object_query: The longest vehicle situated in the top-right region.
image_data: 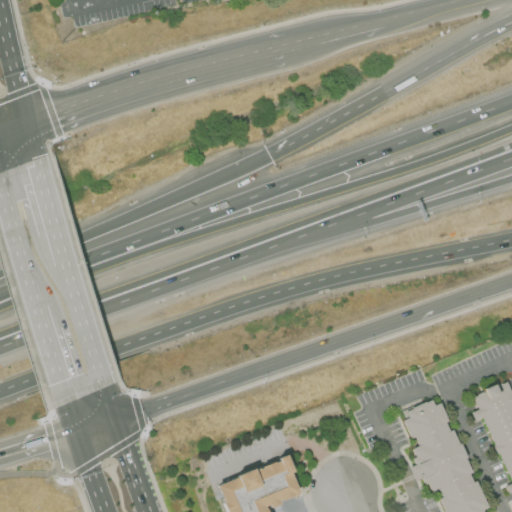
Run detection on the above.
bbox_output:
[390,76,418,94]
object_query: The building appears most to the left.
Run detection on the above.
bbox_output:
[220,454,305,512]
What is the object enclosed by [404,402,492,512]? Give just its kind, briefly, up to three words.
building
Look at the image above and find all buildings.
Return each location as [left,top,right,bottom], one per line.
[404,402,492,512]
[220,454,305,512]
[474,382,512,511]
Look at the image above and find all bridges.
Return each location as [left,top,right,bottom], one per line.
[0,150,122,412]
